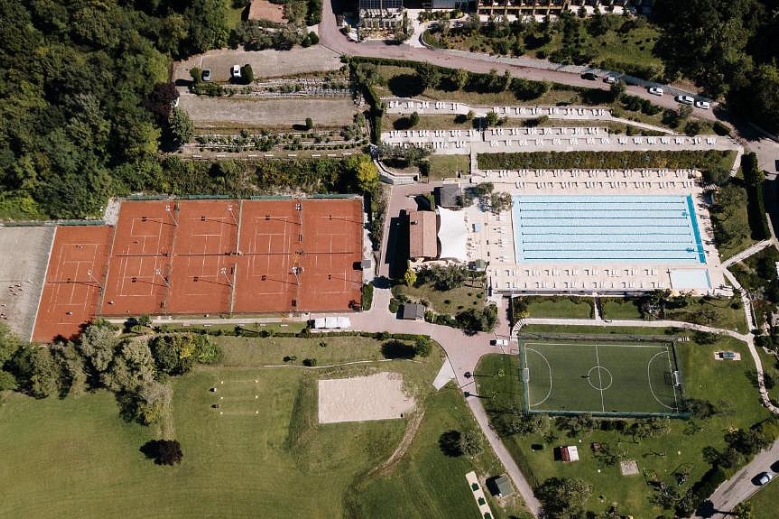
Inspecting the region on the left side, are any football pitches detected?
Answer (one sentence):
No, there's no football pitch to be seen on the left side.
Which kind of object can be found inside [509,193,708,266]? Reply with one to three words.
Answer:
swimming pool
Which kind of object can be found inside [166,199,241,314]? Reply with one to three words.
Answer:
tennis court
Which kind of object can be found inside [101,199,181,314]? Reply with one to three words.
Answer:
tennis court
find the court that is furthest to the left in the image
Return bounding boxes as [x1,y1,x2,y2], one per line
[0,226,56,344]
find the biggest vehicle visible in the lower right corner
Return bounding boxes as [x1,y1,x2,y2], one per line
[756,470,776,487]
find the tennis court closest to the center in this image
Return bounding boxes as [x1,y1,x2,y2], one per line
[297,199,363,312]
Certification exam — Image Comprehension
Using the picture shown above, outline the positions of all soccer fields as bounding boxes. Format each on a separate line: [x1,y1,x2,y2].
[524,342,679,412]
